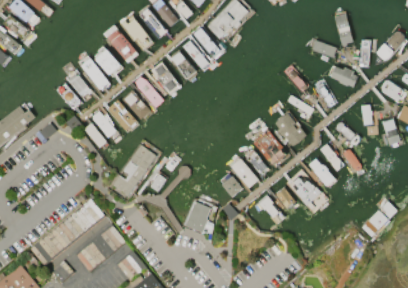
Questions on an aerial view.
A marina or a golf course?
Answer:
marina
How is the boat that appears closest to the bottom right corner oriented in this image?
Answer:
diagonally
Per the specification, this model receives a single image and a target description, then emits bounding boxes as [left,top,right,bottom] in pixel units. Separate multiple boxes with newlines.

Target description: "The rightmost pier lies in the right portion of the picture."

[236,50,408,210]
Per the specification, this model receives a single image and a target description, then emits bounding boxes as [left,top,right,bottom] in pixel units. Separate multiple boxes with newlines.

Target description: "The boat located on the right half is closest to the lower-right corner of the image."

[360,193,401,236]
